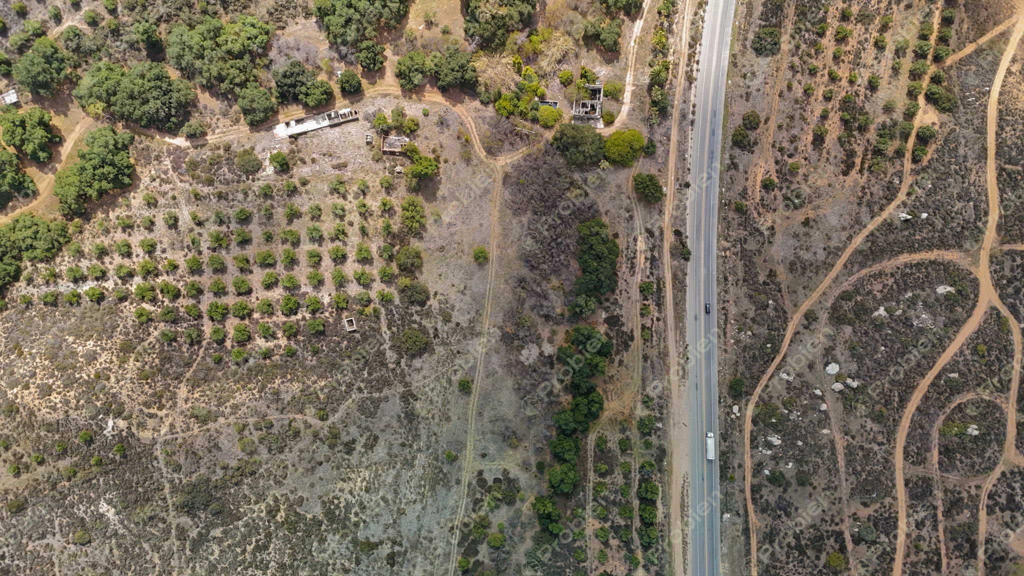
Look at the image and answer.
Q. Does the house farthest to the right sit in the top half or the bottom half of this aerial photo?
top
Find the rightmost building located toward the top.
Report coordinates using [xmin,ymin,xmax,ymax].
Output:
[573,82,604,128]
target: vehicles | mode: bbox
[706,432,715,461]
[705,302,710,314]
